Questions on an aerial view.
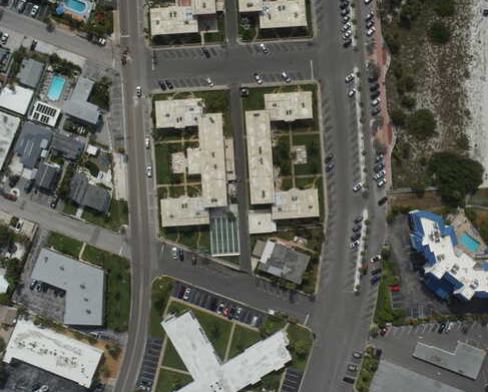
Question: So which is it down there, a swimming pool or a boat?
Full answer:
The one in the frame is a swimming pool.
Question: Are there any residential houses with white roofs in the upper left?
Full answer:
Yes, I can see a residential house with a white roof in the upper left.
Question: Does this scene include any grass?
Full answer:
Yes, grass can be seen from above here.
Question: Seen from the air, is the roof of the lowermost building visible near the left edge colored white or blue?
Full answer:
In this view, the roof of the lowermost building visible near the left edge is white.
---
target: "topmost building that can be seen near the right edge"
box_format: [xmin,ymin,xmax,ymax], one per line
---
[407,208,488,302]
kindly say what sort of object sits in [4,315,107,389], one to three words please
building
